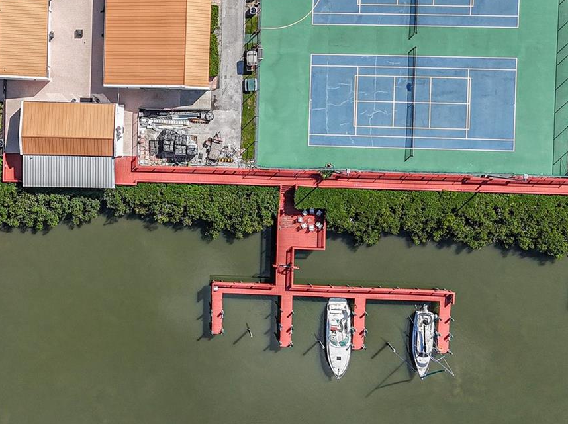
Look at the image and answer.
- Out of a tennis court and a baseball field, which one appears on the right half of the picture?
tennis court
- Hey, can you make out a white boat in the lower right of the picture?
Yes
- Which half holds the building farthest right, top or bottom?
top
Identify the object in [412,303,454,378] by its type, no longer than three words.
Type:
boat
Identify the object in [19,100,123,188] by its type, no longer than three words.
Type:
building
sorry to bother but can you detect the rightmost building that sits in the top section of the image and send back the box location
[102,0,212,91]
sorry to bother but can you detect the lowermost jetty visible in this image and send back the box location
[211,187,457,354]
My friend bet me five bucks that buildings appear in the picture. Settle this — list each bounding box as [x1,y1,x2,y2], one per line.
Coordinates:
[102,0,212,91]
[19,100,123,188]
[0,0,50,82]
